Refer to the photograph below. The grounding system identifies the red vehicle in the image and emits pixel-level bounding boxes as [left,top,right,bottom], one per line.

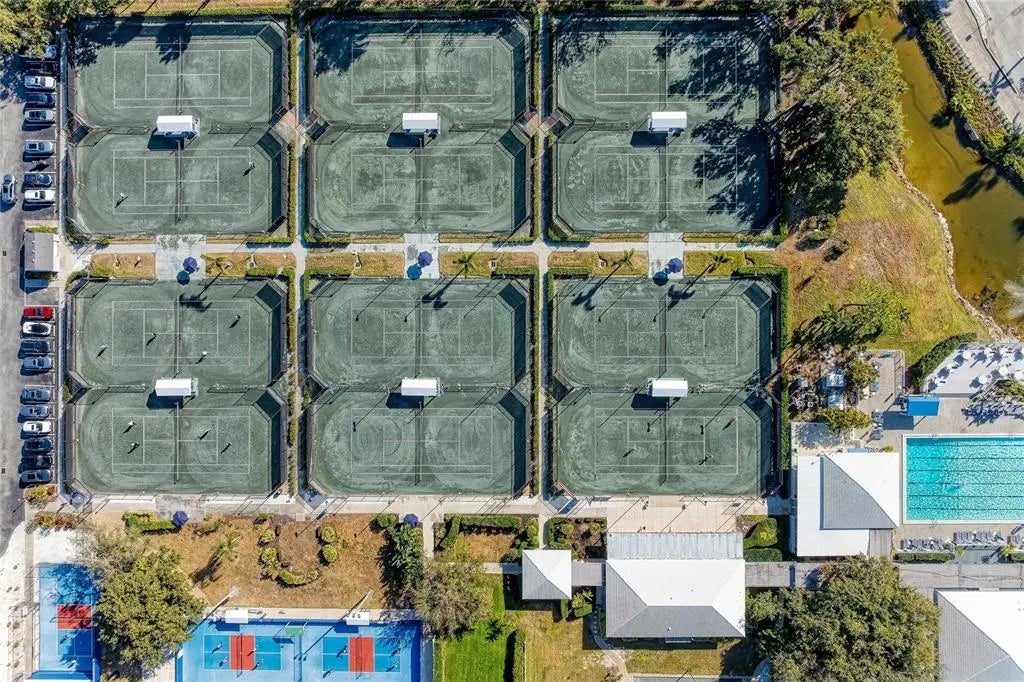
[23,305,53,319]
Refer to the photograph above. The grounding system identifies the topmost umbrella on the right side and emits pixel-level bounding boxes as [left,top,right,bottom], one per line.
[667,258,682,272]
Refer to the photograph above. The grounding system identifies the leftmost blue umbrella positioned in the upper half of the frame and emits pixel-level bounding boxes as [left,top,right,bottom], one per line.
[183,258,197,272]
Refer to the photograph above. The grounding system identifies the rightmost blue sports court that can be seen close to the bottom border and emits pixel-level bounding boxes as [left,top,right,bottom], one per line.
[322,634,401,677]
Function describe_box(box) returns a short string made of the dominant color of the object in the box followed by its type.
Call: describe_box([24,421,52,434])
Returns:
white vehicle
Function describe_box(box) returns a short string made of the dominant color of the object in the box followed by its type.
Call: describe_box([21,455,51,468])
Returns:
black vehicle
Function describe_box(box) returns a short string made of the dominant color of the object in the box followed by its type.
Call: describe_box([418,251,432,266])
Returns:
blue umbrella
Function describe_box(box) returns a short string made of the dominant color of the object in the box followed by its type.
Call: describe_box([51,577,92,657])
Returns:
blue sports court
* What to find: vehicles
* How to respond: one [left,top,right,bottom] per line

[1,175,17,203]
[21,340,51,353]
[25,109,55,123]
[25,91,55,106]
[23,305,53,319]
[27,61,56,75]
[26,75,56,90]
[24,421,52,434]
[23,357,53,370]
[21,455,51,468]
[27,141,53,154]
[21,405,48,417]
[22,389,51,402]
[24,438,53,451]
[22,321,52,335]
[25,189,55,202]
[22,471,51,484]
[25,173,53,186]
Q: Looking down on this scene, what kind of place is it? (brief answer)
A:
sports ground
